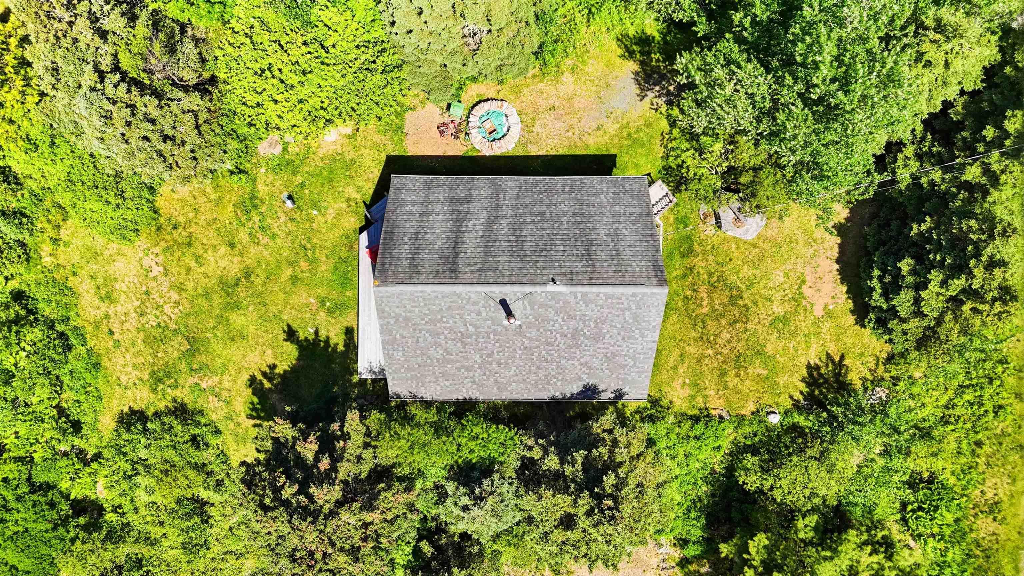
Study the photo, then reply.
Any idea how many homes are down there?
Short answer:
1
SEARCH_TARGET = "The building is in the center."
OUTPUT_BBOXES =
[373,172,667,402]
